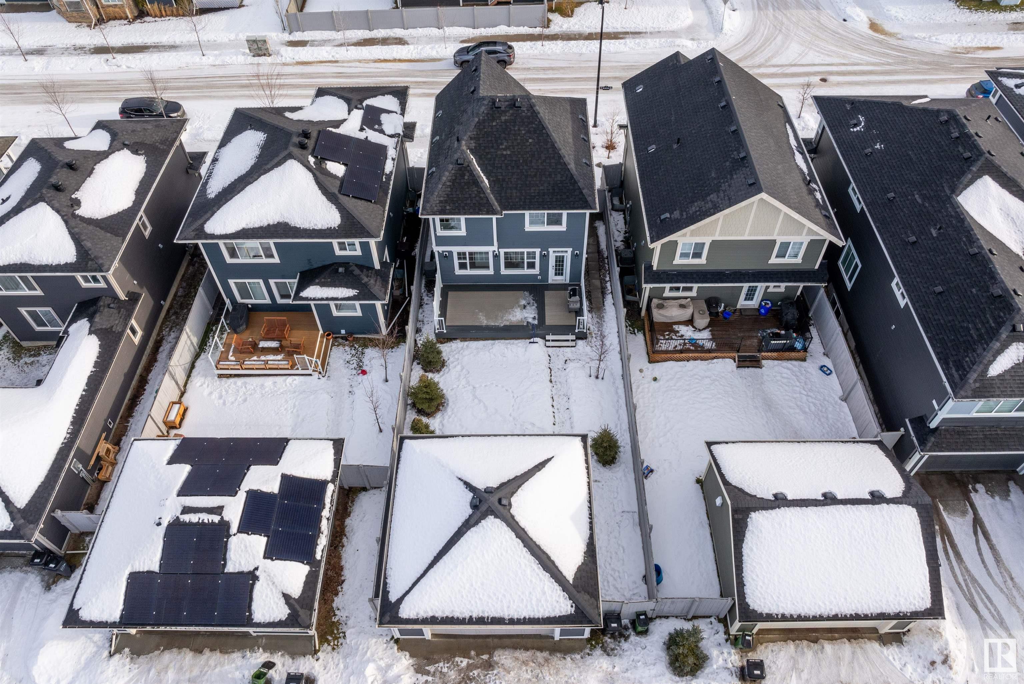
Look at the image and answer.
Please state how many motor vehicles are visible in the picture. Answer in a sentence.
The photo contains 3 motor vehicles.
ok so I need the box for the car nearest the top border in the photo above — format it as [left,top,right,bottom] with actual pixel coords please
[455,37,518,70]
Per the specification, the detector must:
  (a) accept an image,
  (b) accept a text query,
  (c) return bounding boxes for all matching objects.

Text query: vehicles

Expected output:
[971,74,994,98]
[455,37,518,70]
[120,90,194,119]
